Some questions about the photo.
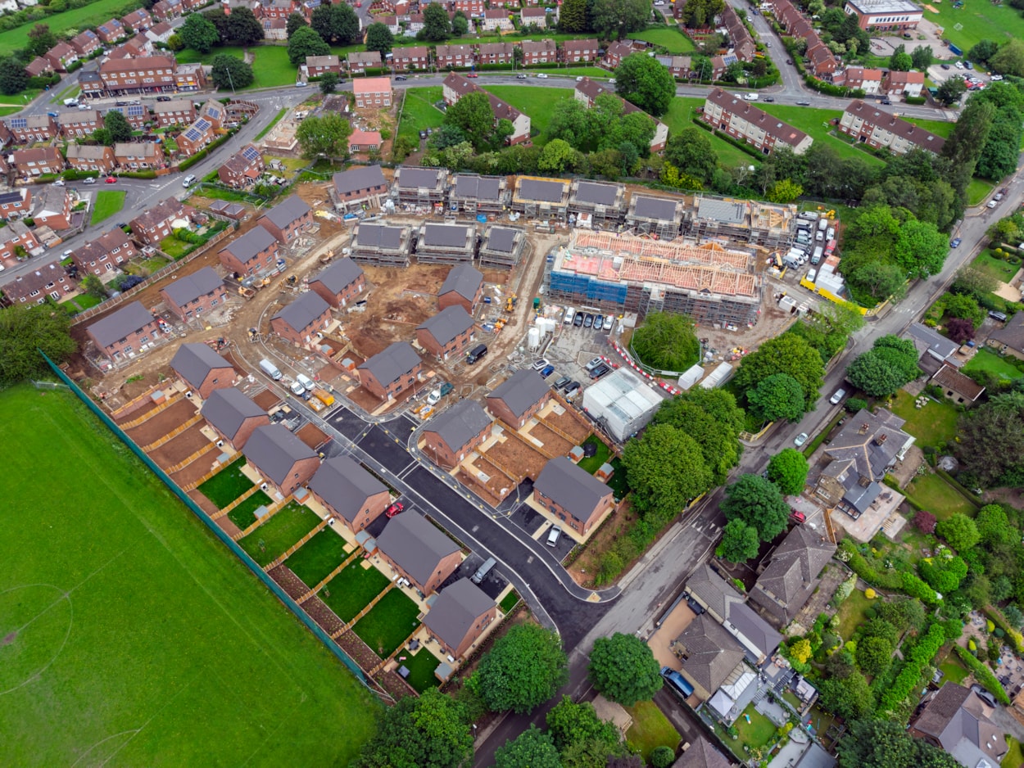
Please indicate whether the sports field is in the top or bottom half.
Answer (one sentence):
Seen from above, the sports field lies in the bottom half of the view.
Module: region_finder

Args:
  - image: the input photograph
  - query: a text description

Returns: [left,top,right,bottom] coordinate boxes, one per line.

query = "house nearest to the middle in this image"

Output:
[486,367,551,434]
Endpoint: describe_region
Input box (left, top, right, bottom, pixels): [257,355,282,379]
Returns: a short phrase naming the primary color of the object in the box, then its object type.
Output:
white vehicle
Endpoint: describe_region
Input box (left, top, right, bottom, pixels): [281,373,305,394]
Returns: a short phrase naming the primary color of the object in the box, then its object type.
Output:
white truck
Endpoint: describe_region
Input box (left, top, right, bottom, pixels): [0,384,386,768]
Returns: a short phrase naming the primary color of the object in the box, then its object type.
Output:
green sports field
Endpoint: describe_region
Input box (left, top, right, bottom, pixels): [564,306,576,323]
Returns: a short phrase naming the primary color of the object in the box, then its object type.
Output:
white vehicle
